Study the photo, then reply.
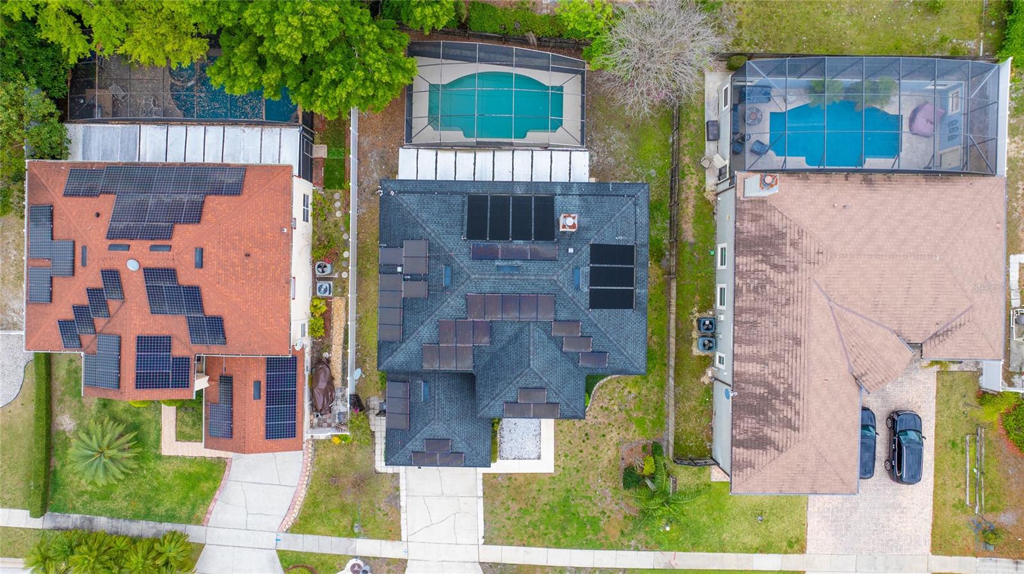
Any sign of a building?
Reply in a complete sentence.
Yes, a building can be made out from above.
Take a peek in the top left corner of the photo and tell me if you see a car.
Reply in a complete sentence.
No, there's no car to be seen in the top left corner of the photo.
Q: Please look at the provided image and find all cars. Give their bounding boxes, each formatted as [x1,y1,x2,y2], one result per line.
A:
[886,409,929,484]
[859,406,882,480]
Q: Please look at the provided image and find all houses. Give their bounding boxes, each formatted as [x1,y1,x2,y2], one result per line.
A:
[375,178,651,469]
[22,158,314,455]
[711,163,1008,497]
